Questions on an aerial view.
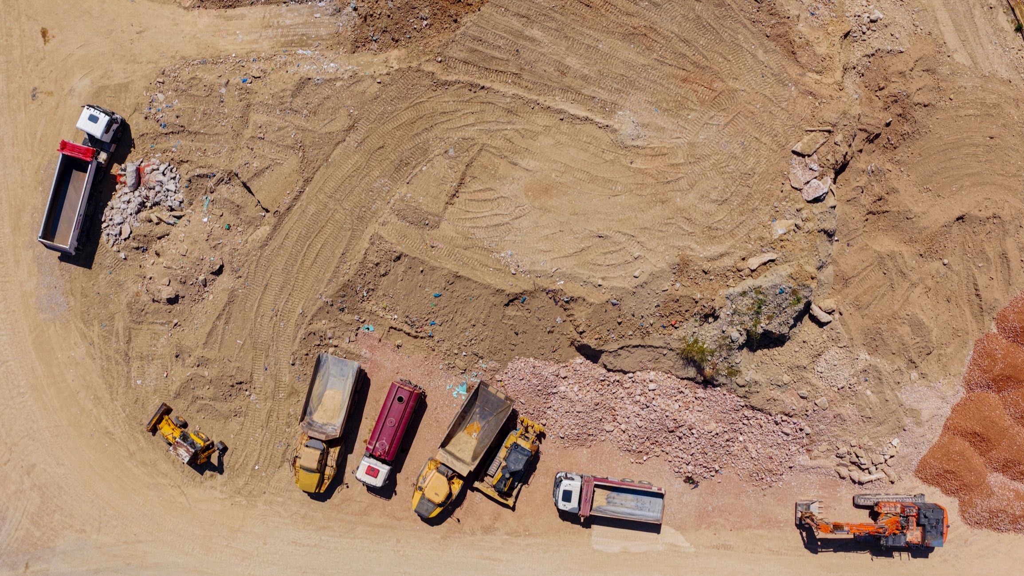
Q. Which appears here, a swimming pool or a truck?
truck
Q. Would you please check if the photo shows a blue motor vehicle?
No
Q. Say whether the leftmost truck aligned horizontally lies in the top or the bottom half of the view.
bottom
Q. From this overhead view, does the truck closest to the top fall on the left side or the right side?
left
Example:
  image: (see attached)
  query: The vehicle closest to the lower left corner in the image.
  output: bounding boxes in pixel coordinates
[150,402,227,467]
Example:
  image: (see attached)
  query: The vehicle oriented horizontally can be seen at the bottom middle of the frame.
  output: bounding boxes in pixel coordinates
[549,468,666,524]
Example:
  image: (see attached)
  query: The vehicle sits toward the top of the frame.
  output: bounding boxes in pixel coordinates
[36,102,128,256]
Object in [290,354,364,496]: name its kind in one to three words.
truck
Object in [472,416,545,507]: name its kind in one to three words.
work vehicle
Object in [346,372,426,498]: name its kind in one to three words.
truck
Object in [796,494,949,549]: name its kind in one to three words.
work vehicle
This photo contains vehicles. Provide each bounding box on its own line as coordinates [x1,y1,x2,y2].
[412,381,516,519]
[150,402,227,467]
[290,354,364,496]
[549,468,666,524]
[36,102,128,256]
[796,494,949,549]
[346,372,426,498]
[472,416,545,507]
